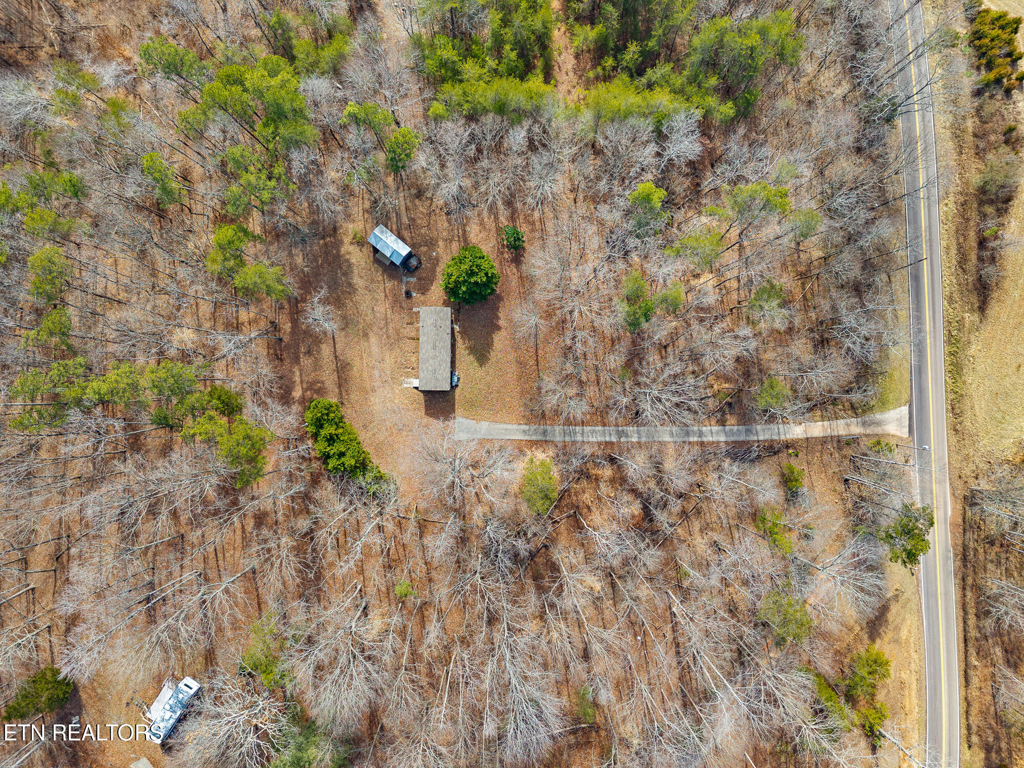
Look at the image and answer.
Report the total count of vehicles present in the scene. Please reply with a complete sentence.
Looking from above, you can make out 2 vehicles.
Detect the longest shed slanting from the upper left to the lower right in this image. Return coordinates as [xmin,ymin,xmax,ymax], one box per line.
[369,225,412,266]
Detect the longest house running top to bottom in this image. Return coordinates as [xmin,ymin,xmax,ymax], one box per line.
[419,307,452,391]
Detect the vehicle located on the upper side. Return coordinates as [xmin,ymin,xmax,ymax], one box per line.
[402,253,425,275]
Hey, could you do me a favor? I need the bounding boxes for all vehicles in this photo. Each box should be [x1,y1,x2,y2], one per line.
[402,253,425,275]
[148,672,205,742]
